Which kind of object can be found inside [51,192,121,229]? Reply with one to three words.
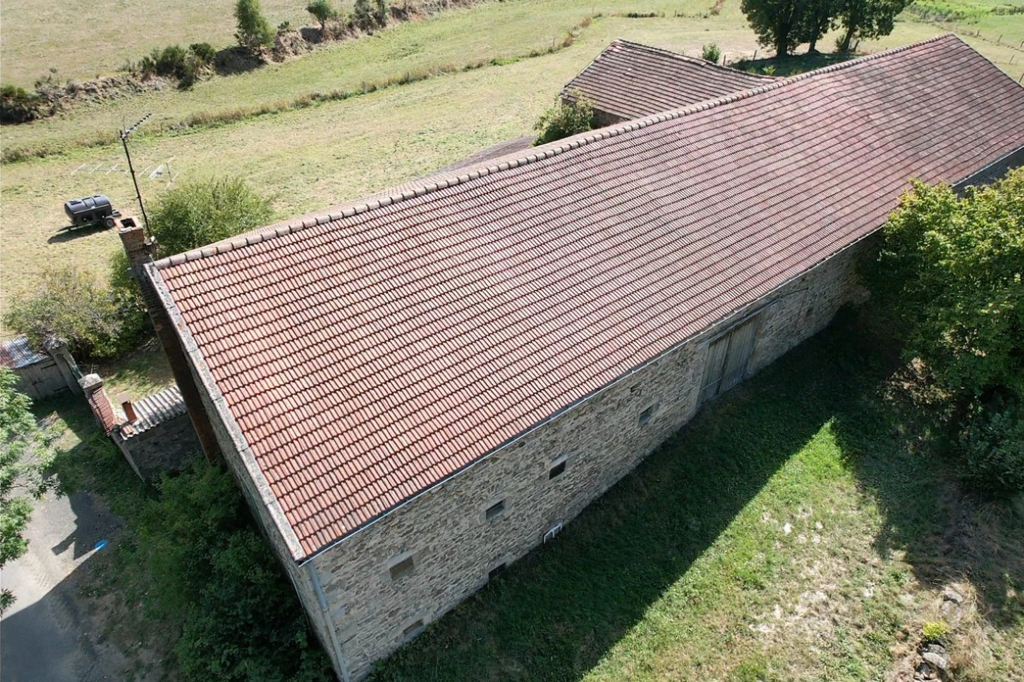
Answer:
trailer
